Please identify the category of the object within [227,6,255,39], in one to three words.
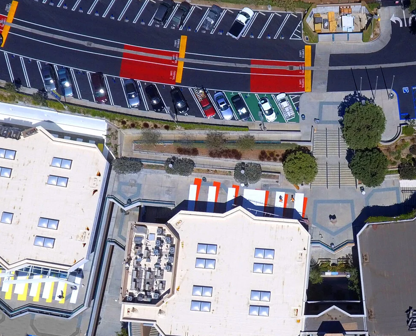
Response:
truck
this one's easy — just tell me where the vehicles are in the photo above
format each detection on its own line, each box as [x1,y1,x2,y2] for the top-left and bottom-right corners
[274,89,297,122]
[189,85,218,121]
[230,92,252,121]
[214,91,235,119]
[170,87,190,114]
[152,0,176,25]
[199,2,225,33]
[227,6,255,39]
[314,11,323,33]
[145,83,165,112]
[259,95,278,123]
[126,79,141,107]
[57,66,76,95]
[40,64,58,92]
[90,72,109,103]
[170,1,192,28]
